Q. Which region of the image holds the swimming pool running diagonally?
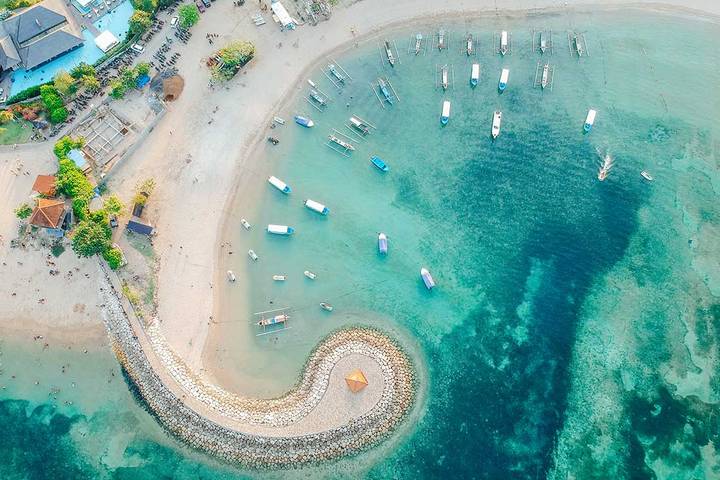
top left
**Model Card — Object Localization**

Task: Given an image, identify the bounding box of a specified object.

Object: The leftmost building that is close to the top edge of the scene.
[0,0,87,78]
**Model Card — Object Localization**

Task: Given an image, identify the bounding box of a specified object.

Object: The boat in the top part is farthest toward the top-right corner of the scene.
[567,34,589,57]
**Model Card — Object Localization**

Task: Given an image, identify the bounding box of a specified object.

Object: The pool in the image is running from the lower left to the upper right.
[9,0,135,97]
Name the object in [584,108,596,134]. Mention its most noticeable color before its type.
white boat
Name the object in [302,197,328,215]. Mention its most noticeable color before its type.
white boat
